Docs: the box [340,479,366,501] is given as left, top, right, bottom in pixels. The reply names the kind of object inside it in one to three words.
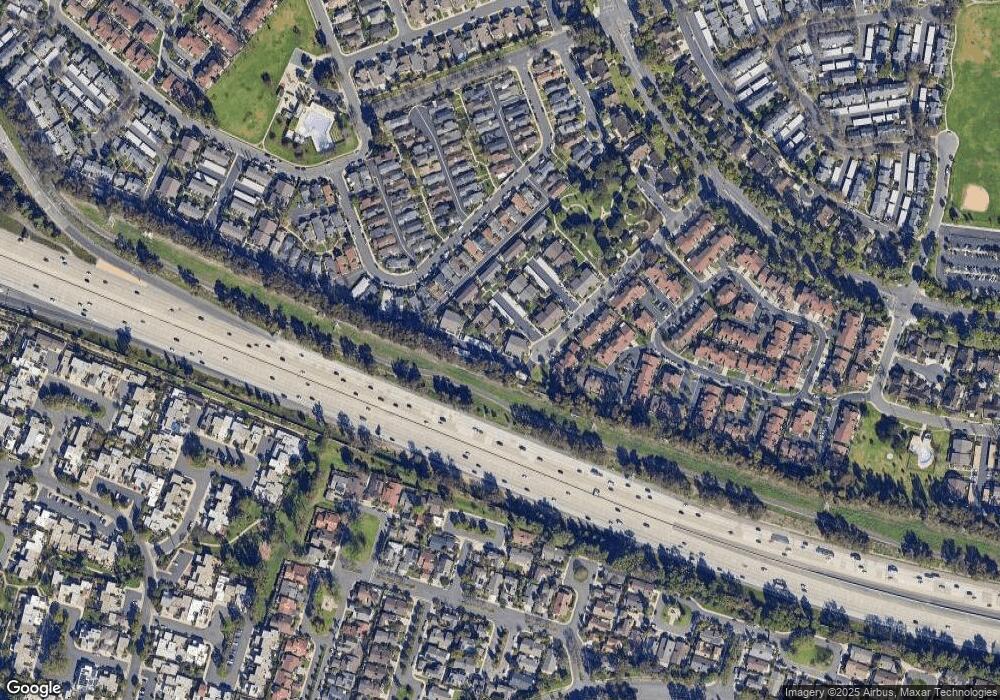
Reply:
house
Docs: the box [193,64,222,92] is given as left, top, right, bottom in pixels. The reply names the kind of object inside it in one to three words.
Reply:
house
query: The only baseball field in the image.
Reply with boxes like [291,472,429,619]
[962,185,989,212]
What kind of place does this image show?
residential area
